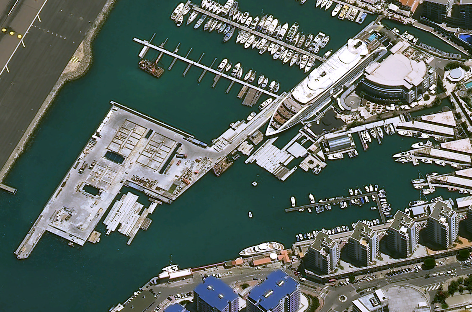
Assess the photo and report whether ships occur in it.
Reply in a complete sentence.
Yes, I can see a ship in this picture.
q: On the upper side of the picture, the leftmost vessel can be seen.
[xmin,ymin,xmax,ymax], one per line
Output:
[139,54,164,77]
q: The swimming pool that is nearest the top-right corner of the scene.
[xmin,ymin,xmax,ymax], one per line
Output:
[454,32,472,46]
